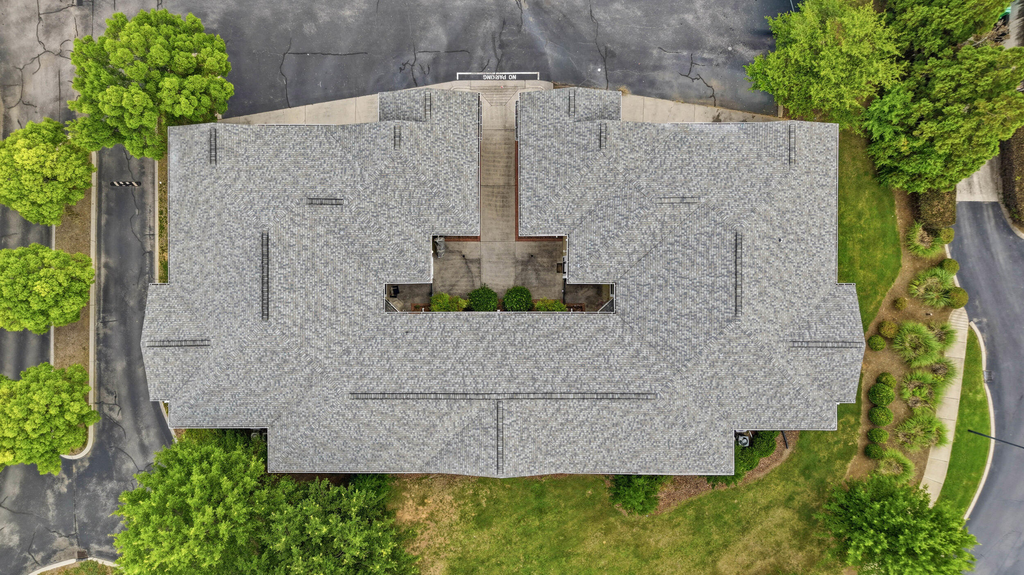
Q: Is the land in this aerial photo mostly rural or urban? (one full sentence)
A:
The area shown here is urban.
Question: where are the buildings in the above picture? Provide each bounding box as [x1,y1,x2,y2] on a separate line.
[140,87,865,481]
